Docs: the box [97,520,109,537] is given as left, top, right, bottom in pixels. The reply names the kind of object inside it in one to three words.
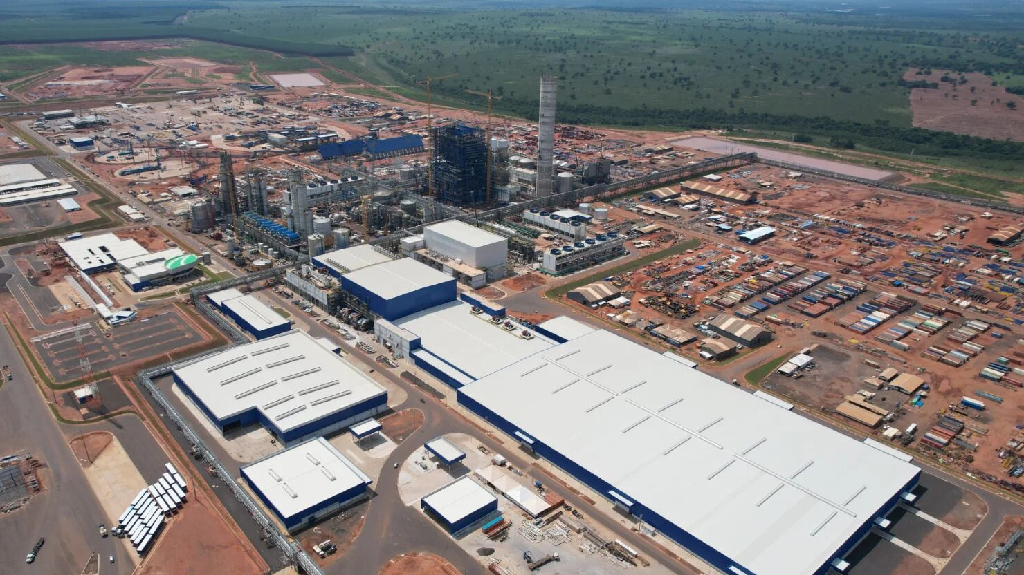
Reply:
vehicle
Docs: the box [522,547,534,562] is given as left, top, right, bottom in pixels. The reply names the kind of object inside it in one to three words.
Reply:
vehicle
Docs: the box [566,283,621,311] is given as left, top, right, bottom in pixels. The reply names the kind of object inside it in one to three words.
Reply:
shed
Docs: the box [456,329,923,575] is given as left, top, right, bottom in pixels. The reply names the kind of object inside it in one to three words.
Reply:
warehouse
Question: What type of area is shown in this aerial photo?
industrial area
